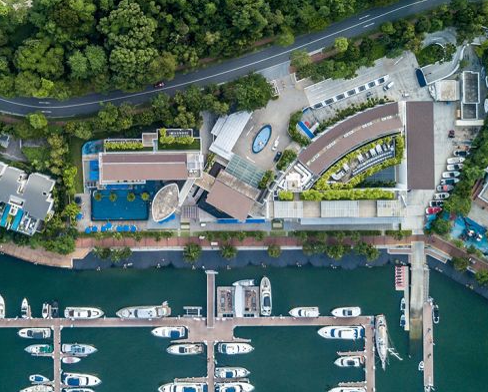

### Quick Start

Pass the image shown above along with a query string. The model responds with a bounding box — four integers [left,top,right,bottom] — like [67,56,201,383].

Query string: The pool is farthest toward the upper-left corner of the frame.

[82,140,105,154]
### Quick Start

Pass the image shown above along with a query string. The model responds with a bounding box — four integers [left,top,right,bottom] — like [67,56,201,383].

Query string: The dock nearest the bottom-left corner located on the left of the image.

[30,327,90,392]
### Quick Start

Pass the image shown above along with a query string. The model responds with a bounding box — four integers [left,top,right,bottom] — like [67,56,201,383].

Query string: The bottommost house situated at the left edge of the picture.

[0,166,59,237]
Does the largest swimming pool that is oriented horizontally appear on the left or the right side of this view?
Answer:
left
